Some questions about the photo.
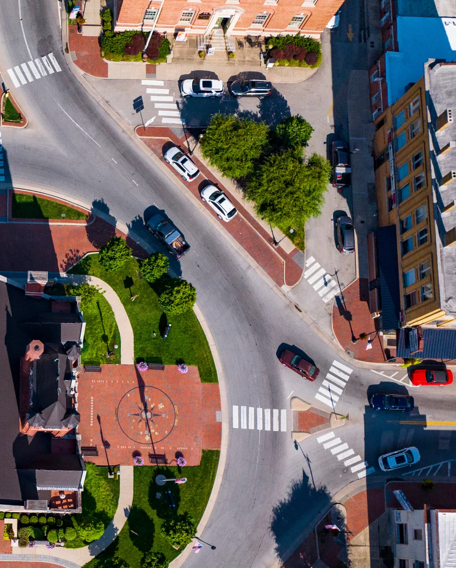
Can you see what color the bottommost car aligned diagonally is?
red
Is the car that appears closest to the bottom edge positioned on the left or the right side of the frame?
right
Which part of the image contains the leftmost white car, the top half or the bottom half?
top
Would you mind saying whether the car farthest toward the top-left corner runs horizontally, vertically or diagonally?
horizontally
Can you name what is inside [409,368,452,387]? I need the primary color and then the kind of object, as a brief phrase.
red car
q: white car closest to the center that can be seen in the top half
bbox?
[199,190,238,222]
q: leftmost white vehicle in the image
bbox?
[162,148,200,182]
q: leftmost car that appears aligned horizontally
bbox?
[179,78,224,99]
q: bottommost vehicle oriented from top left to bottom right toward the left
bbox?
[146,216,192,259]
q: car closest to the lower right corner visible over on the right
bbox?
[377,448,420,471]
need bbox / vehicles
[335,216,357,253]
[377,448,420,471]
[328,9,345,31]
[162,148,200,182]
[179,78,224,99]
[409,368,452,387]
[331,142,353,188]
[277,350,320,383]
[229,77,273,99]
[199,190,238,222]
[146,216,192,259]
